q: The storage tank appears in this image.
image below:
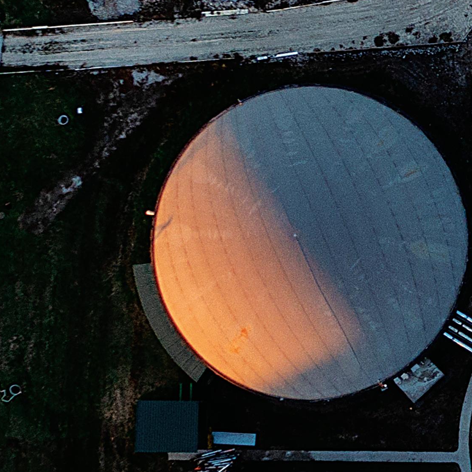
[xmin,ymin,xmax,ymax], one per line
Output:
[135,83,472,405]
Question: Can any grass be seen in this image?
Yes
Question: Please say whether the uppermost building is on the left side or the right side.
right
